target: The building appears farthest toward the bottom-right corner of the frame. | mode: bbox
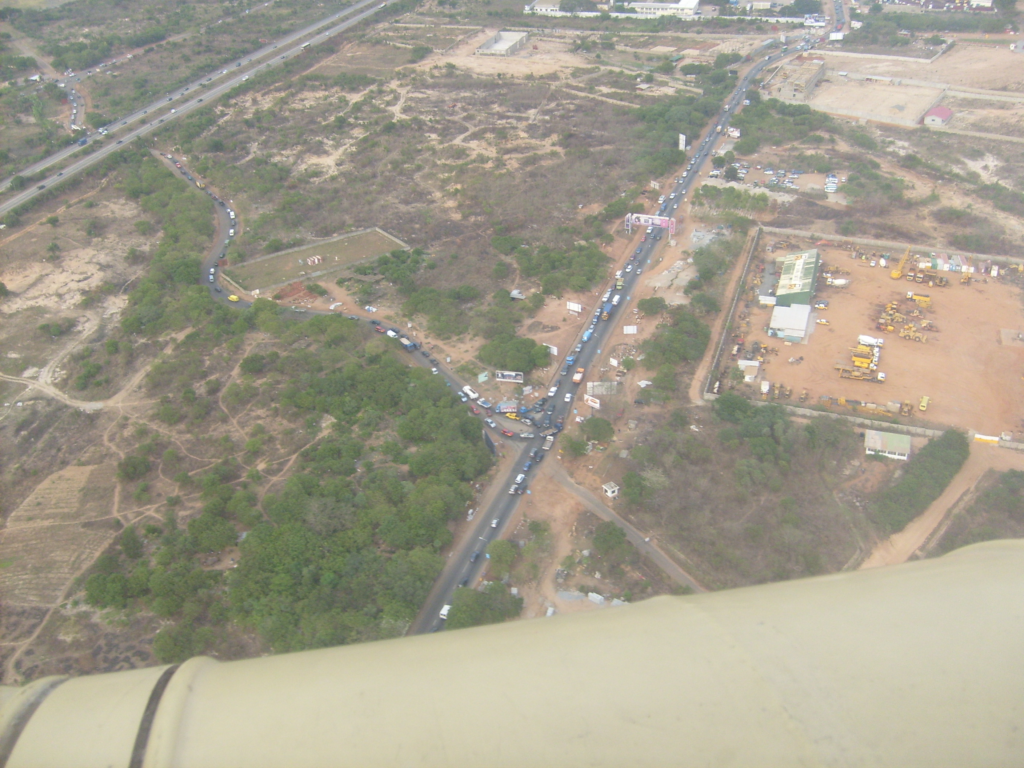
[864,430,911,460]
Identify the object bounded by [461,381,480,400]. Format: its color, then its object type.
white vehicle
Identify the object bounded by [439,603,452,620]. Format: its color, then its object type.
white vehicle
